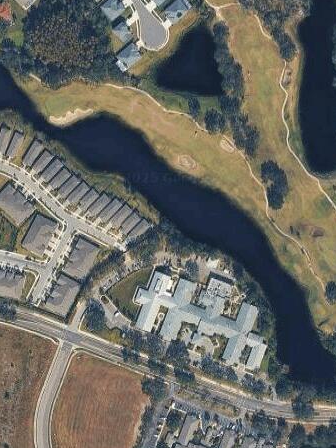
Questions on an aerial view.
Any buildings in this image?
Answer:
Yes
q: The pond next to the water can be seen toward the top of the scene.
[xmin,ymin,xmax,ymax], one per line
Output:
[157,25,222,96]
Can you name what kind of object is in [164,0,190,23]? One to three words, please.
house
